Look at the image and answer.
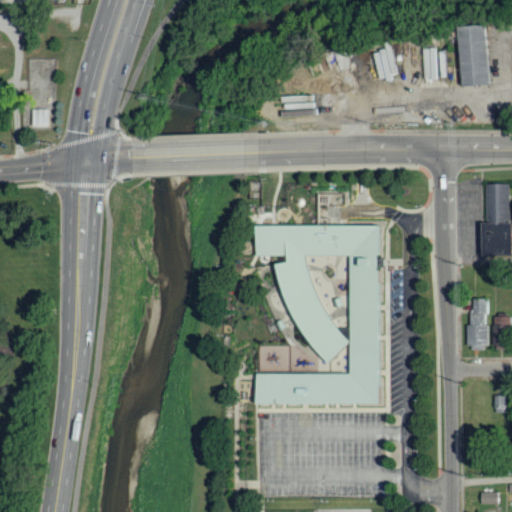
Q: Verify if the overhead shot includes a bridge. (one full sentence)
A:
Yes, the frame does contain a bridge.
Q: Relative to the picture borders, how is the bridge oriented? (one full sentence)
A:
The bridge is laid out from side to side.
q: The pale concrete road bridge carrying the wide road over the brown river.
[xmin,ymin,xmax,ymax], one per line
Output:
[131,132,244,177]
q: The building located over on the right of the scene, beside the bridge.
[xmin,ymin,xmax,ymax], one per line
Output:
[256,225,381,404]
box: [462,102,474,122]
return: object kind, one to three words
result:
vehicle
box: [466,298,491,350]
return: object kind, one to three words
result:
house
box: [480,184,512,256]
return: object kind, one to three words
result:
house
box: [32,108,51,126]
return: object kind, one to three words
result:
shed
